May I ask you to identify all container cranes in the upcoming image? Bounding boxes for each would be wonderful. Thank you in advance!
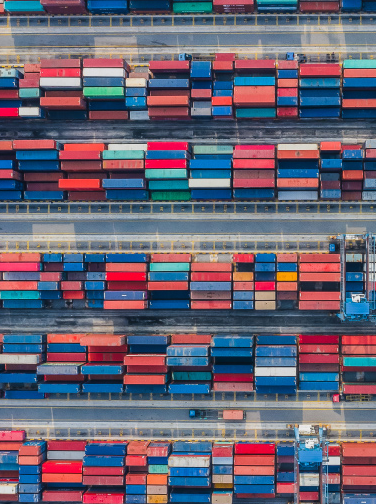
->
[283,424,329,504]
[324,231,374,322]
